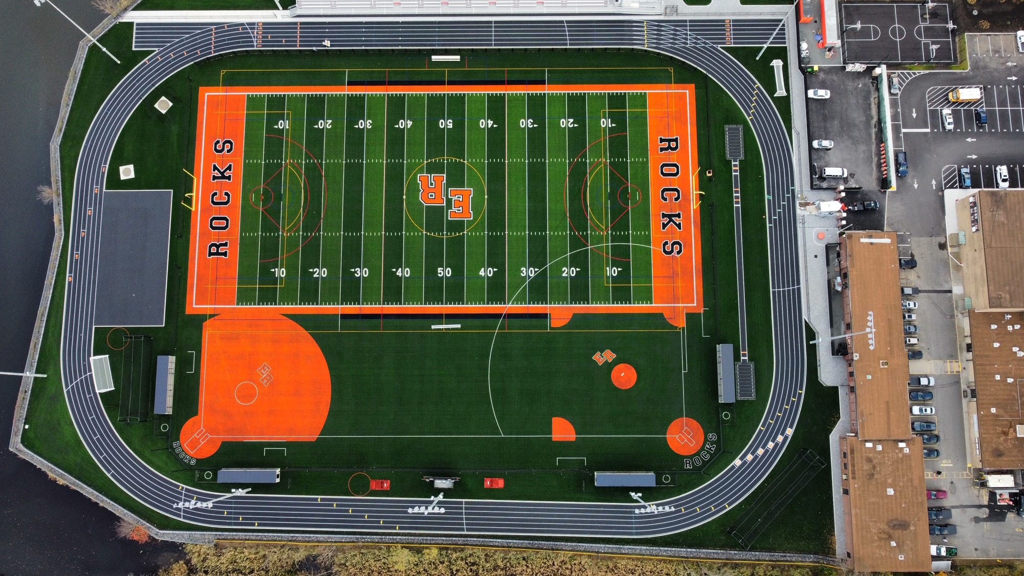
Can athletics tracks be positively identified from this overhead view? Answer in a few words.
Yes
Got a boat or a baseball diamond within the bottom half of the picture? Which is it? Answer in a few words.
baseball diamond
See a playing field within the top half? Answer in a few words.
Yes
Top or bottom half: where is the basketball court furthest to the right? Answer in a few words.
top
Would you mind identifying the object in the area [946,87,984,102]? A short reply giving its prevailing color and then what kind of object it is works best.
white vehicle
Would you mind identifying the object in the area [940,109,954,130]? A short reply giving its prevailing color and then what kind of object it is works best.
white car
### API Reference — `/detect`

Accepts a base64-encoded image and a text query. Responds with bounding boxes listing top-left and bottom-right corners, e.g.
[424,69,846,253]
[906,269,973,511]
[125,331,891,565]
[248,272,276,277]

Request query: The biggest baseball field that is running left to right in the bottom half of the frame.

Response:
[161,309,670,480]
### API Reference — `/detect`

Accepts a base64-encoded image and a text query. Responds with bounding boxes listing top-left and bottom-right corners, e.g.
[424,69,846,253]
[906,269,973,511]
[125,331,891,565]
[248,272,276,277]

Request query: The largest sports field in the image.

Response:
[186,57,703,332]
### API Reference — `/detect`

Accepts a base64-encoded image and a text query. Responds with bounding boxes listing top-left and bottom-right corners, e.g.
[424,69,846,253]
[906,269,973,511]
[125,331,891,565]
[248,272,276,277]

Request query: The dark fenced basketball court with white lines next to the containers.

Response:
[843,0,958,65]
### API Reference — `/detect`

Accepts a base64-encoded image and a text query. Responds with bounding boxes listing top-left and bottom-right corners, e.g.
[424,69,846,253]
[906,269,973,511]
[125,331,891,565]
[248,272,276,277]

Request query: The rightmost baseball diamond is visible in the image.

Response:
[488,243,730,483]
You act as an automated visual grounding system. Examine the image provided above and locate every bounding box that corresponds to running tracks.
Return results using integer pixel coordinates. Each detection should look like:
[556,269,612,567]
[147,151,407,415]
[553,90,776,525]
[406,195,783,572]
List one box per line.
[60,19,807,539]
